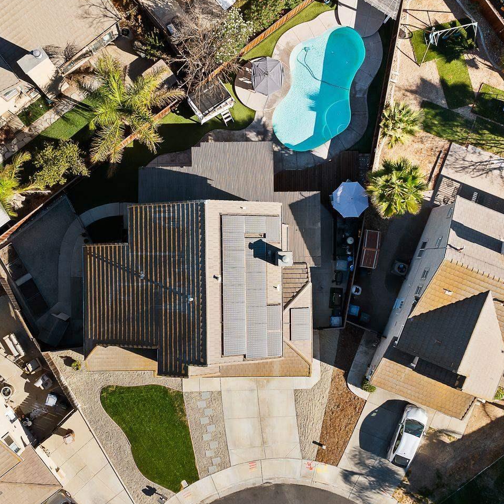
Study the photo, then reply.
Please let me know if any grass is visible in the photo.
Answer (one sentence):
Yes, grass can be seen from above here.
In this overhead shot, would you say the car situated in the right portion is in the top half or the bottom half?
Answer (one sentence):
You can find the car situated in the right portion in the bottom half.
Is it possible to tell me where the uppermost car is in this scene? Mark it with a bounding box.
[387,404,427,468]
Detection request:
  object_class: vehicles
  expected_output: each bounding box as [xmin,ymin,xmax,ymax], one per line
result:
[46,490,76,504]
[387,404,427,468]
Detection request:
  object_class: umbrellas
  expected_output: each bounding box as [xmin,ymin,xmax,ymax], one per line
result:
[331,182,366,218]
[247,59,285,94]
